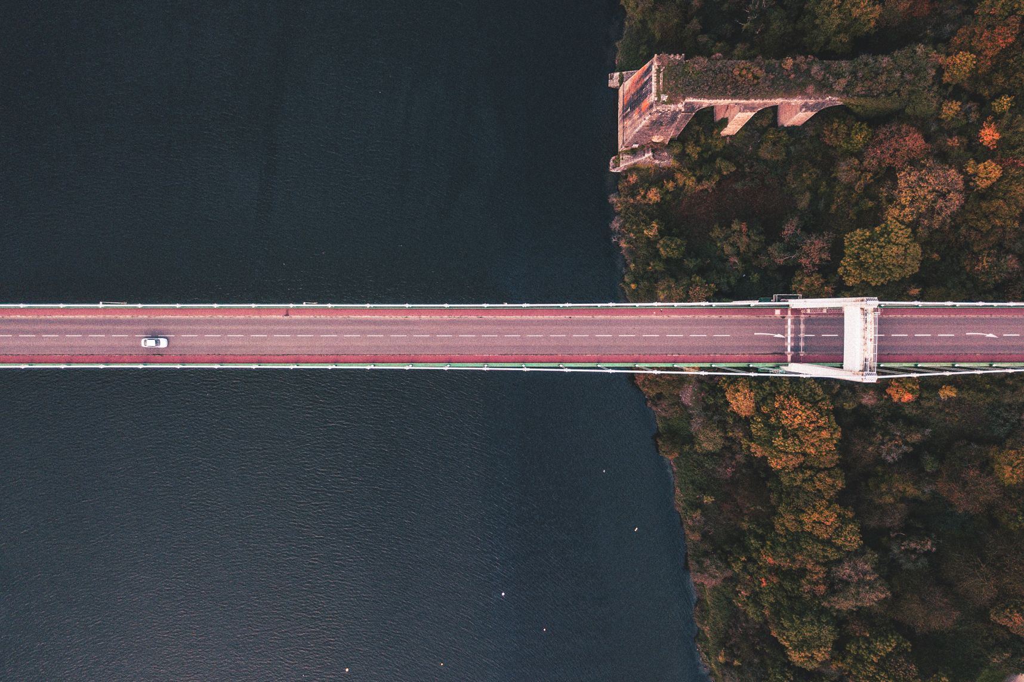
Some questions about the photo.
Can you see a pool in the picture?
No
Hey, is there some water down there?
Yes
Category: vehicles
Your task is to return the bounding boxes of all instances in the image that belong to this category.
[140,337,167,349]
